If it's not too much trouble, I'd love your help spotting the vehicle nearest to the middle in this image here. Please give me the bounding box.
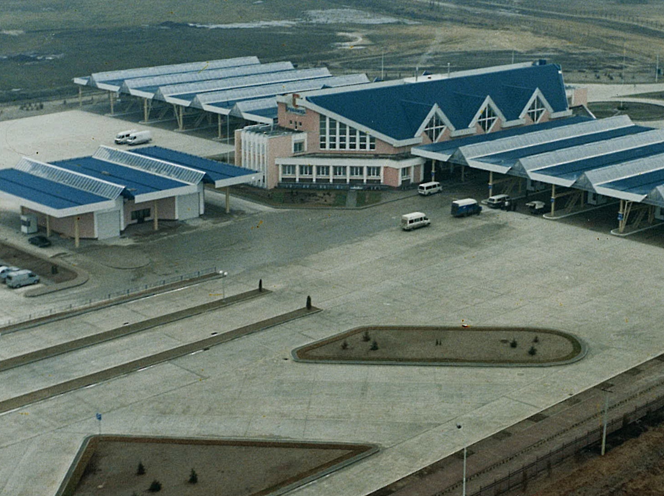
[401,210,432,231]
